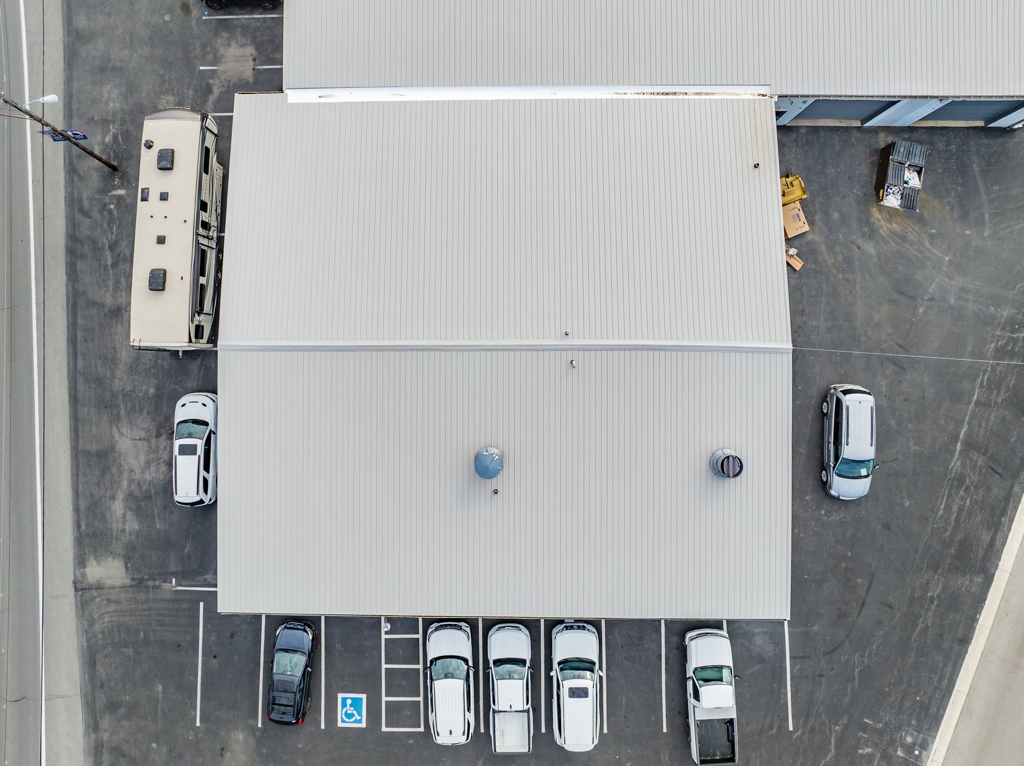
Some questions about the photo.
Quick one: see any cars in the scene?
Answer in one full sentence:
Yes, you can see a car in this photo.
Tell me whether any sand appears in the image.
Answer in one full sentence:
No, there is no sand in the image.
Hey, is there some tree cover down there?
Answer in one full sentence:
No, the picture contains no tree cover.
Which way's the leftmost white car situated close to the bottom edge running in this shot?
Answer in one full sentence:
The leftmost white car situated close to the bottom edge has been laid out from top to bottom relative to the frame.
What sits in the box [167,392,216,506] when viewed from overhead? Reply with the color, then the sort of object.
white car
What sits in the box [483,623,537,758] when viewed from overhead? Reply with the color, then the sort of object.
white truck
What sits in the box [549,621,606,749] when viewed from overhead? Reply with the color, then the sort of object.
white car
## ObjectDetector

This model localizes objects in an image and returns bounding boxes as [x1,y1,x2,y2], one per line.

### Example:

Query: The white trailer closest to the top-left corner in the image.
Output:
[131,112,225,358]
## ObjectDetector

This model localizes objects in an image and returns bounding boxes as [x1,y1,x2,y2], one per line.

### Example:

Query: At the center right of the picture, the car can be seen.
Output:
[824,385,880,498]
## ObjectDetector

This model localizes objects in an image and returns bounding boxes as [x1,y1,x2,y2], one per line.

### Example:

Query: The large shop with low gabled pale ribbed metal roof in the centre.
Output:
[215,85,794,618]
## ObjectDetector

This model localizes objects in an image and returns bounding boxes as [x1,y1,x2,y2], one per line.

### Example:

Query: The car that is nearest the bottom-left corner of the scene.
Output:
[263,619,317,726]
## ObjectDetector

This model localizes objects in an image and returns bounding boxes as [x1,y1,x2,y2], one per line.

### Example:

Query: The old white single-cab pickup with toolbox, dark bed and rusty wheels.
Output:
[684,627,739,766]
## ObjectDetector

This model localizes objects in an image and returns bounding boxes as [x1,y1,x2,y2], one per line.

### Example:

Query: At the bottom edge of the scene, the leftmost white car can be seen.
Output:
[421,623,478,746]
